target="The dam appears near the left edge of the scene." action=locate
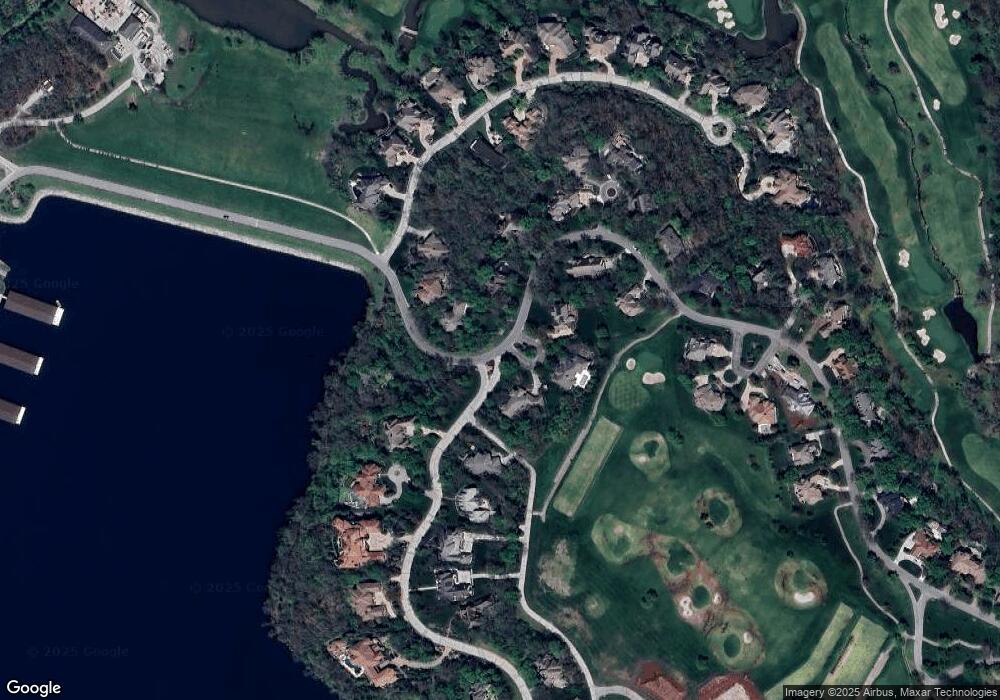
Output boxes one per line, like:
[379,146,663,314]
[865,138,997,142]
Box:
[0,185,369,286]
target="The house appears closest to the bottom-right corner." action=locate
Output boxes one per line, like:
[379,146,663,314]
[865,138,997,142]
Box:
[948,548,990,587]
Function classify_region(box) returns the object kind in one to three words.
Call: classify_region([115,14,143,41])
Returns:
shed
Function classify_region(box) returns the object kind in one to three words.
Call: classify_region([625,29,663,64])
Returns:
house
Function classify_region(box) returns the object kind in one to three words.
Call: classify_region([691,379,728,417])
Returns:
house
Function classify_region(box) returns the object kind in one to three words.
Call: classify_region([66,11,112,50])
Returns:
shed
